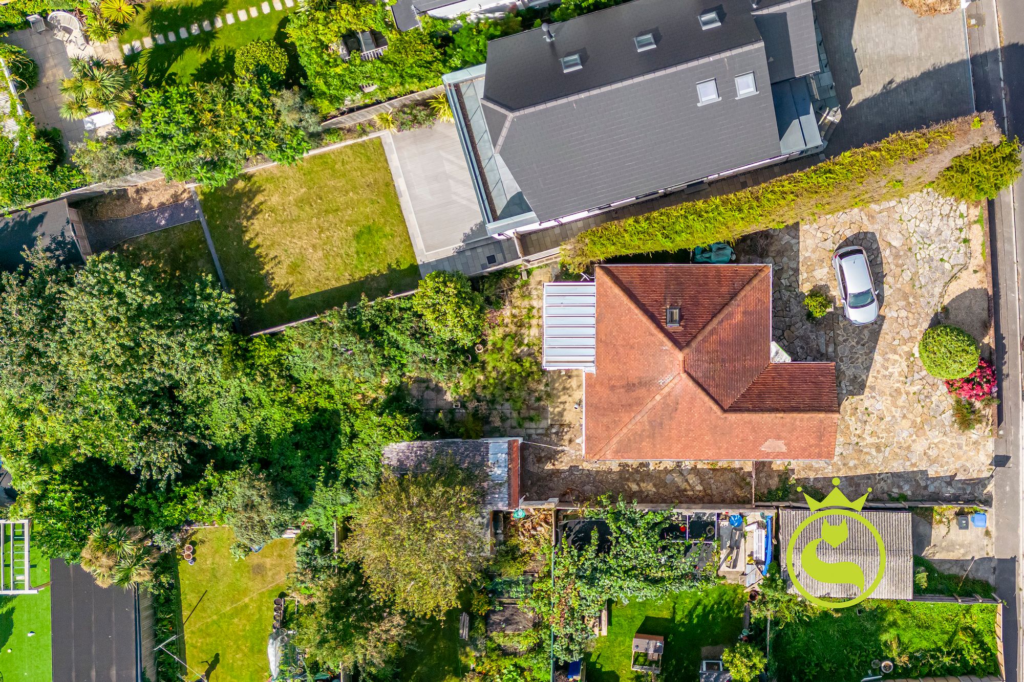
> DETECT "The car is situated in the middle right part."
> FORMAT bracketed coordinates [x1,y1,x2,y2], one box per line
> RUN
[834,245,881,327]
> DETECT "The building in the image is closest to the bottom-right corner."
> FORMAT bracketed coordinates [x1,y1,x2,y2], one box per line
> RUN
[780,506,914,599]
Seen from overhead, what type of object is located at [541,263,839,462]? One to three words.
house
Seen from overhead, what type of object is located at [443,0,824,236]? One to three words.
house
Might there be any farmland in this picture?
No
